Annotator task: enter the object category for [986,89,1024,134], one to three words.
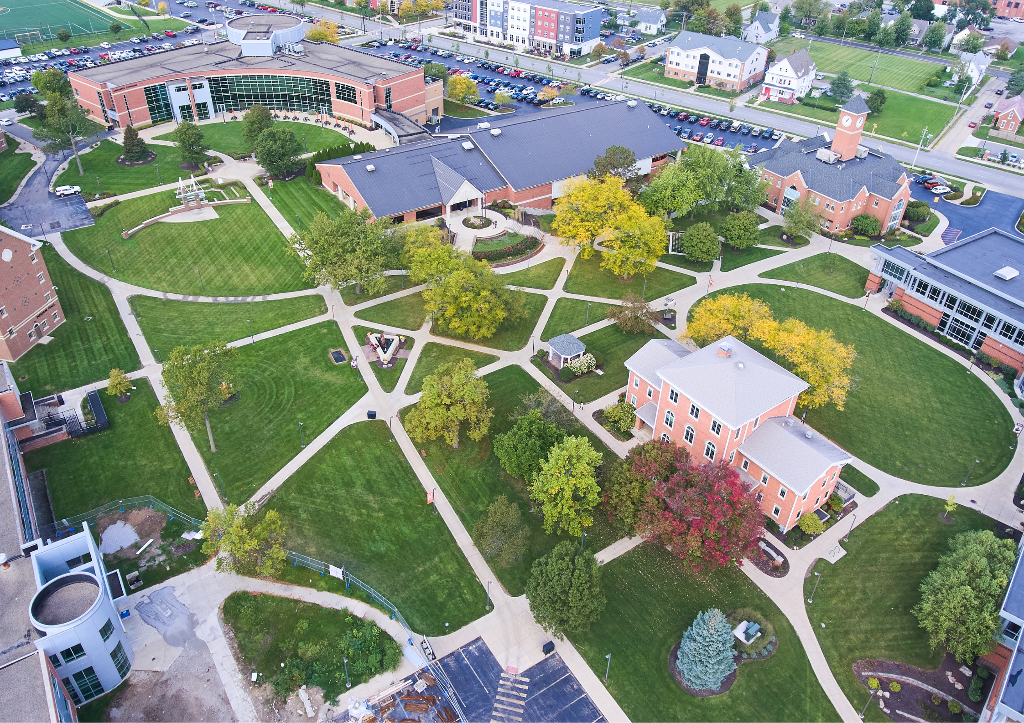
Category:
house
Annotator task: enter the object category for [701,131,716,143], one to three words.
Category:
vehicle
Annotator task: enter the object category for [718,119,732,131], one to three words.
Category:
vehicle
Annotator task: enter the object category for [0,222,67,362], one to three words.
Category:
building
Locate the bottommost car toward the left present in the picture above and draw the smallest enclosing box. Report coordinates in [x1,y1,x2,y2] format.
[55,185,82,197]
